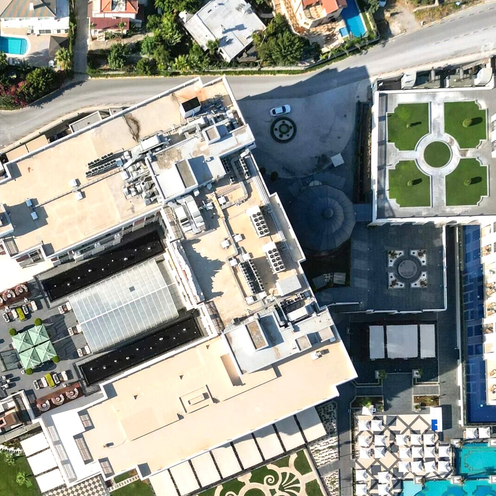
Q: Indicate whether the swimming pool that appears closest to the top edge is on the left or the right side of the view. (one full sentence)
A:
The swimming pool that appears closest to the top edge appears in the right half of the scene.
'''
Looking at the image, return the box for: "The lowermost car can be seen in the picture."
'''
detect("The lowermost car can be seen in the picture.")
[269,105,291,118]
